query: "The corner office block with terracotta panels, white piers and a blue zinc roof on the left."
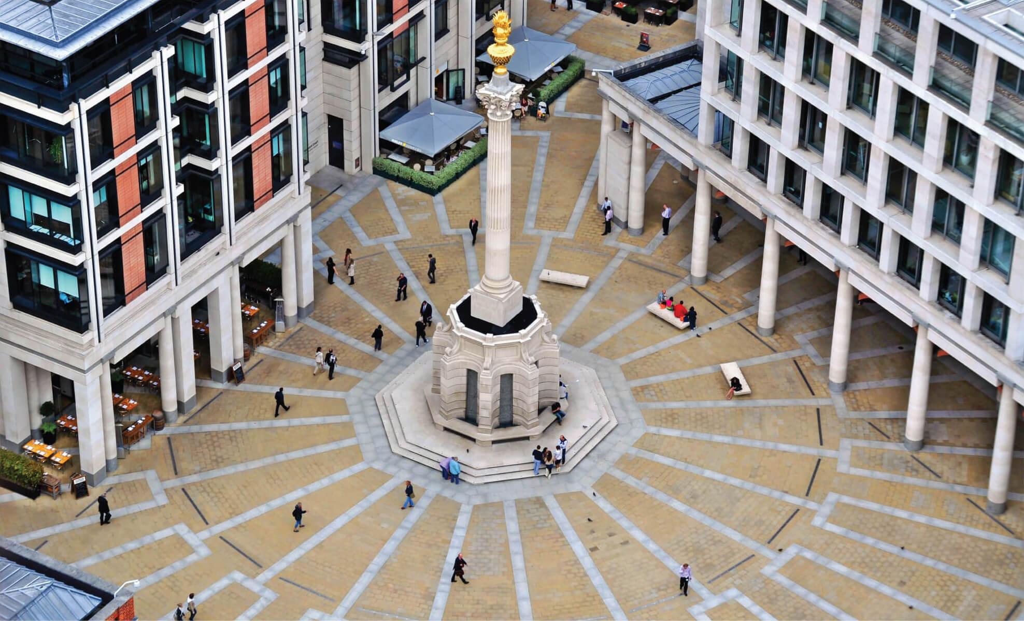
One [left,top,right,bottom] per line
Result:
[0,0,313,476]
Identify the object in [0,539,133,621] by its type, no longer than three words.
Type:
building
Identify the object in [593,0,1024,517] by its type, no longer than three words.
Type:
building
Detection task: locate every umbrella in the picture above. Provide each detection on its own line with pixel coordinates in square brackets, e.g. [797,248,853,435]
[377,100,486,165]
[506,26,582,96]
